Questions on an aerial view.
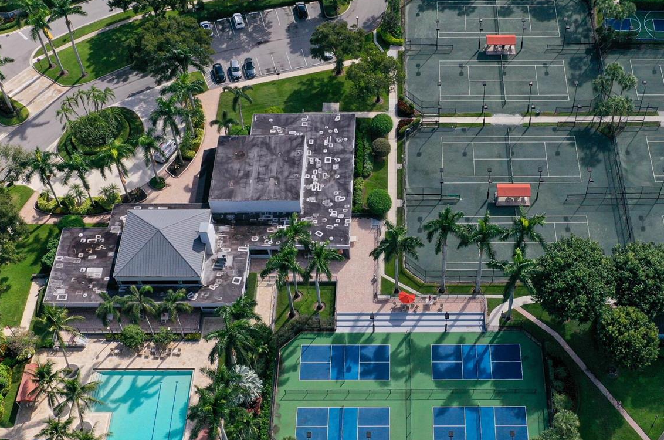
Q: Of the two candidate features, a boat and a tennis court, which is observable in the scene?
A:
tennis court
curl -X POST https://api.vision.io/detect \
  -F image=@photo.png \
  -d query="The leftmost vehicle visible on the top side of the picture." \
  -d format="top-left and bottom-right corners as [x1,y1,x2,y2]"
[154,135,181,162]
